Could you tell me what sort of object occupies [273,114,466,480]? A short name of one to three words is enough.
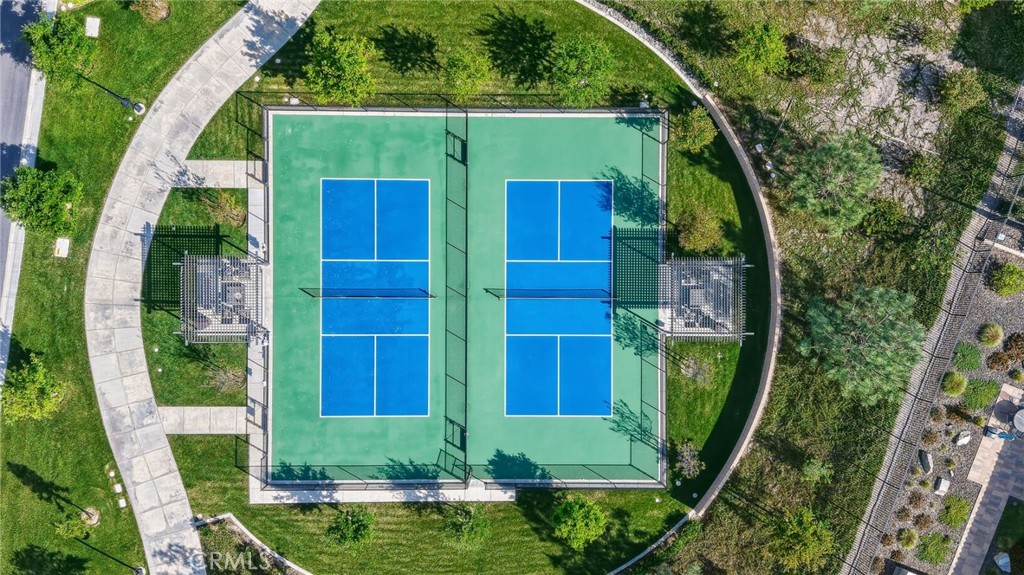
sports court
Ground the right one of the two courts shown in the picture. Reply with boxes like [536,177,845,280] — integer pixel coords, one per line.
[467,114,658,480]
